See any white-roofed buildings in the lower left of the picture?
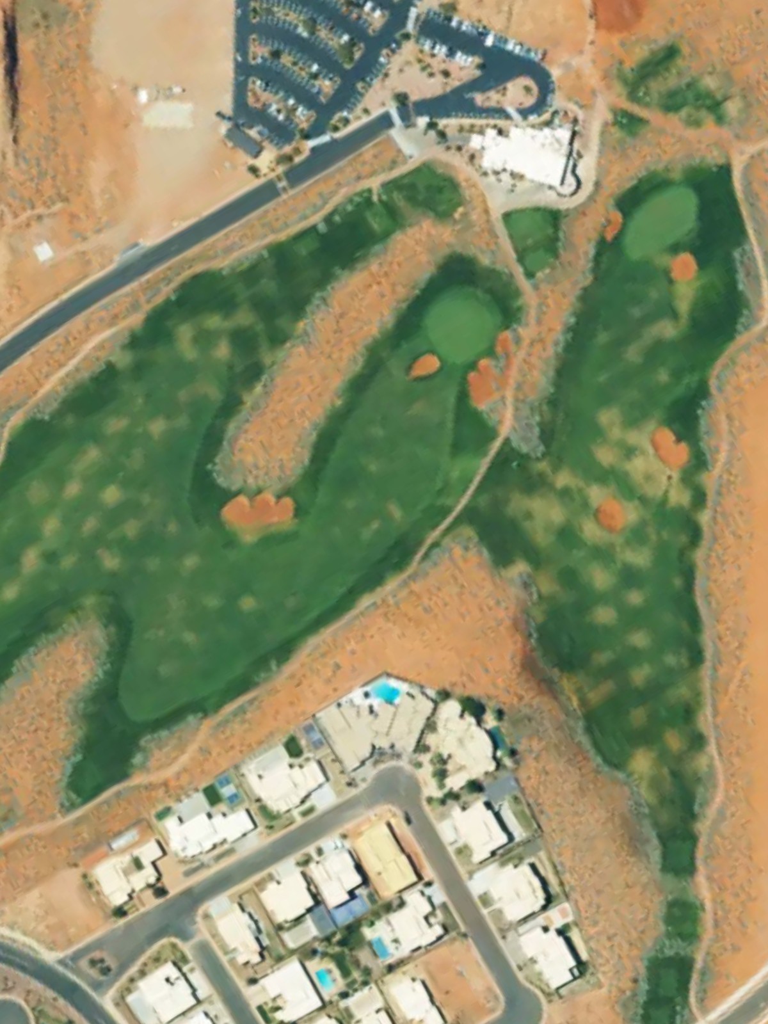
Yes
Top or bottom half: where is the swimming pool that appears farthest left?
bottom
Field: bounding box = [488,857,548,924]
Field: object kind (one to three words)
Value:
house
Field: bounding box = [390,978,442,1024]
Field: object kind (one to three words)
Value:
house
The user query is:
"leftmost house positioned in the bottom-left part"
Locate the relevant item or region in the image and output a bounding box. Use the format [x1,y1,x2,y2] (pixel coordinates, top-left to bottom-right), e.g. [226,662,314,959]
[95,840,165,902]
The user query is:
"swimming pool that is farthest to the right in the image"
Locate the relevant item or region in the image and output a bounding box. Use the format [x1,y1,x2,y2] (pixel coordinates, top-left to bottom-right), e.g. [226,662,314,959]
[489,725,506,750]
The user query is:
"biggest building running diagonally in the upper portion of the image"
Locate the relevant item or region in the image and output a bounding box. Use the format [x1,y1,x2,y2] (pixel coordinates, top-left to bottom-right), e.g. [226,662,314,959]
[226,124,261,157]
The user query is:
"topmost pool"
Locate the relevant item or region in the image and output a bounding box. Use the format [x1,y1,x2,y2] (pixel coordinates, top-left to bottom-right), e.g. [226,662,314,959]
[372,681,401,703]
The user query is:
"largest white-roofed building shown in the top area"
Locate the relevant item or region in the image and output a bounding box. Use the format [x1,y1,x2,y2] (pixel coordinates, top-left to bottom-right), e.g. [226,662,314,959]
[470,126,571,185]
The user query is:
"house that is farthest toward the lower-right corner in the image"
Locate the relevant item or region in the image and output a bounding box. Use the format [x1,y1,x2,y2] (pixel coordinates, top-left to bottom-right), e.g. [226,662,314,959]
[518,927,576,988]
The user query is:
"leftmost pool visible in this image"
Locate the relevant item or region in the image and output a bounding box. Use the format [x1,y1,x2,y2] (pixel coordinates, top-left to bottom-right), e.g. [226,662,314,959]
[314,967,336,992]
